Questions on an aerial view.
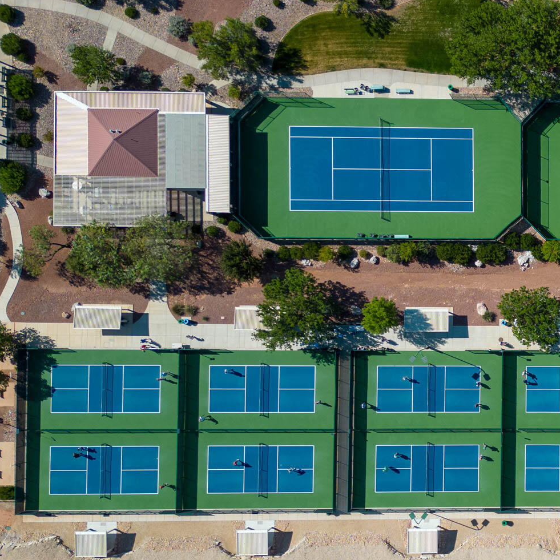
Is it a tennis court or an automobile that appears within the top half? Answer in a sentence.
You can see a tennis court within the top half.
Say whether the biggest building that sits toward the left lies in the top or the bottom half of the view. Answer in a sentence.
The top half of the photo is where the biggest building that sits toward the left is.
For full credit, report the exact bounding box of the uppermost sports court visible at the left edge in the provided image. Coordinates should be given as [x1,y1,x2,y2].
[27,350,178,431]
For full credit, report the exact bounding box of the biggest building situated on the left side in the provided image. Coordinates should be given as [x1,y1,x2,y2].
[46,91,229,226]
